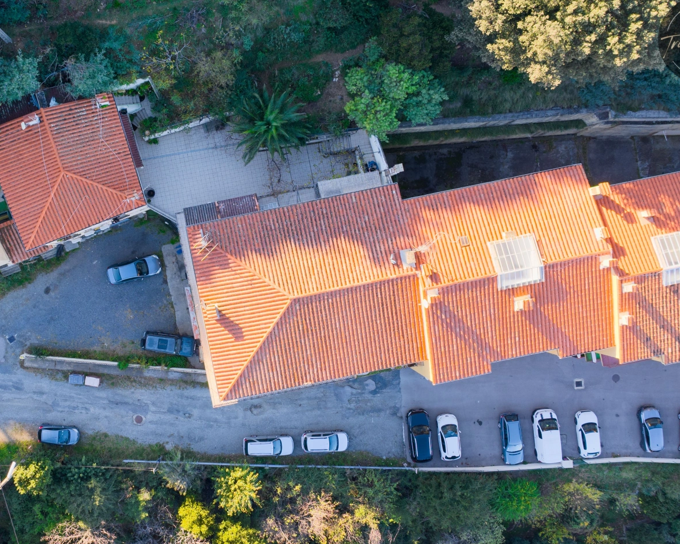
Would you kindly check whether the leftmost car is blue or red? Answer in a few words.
blue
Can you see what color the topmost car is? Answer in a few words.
blue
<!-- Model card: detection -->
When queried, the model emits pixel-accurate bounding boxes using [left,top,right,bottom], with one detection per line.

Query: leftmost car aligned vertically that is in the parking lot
[407,407,434,464]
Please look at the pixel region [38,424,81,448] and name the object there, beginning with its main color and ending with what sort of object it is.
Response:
blue car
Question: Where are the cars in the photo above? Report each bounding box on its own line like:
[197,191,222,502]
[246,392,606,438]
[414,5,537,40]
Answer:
[407,407,434,464]
[243,433,293,459]
[436,413,463,461]
[107,256,163,285]
[38,424,81,448]
[300,429,348,455]
[573,409,602,458]
[637,405,667,453]
[139,333,196,359]
[498,412,526,464]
